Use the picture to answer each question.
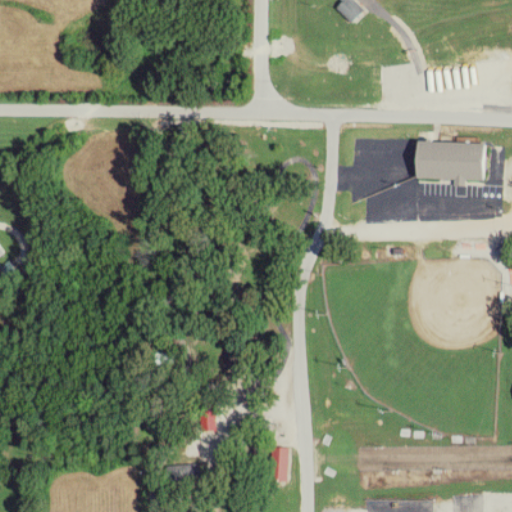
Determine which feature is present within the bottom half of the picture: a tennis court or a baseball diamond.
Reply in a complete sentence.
You can see a baseball diamond within the bottom half of the picture.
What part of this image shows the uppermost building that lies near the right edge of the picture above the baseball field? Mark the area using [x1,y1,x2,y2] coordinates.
[414,140,487,188]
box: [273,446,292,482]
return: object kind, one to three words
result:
barn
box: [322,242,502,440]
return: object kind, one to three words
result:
baseball field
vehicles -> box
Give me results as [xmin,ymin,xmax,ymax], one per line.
[452,66,462,91]
[436,68,444,94]
[471,65,478,86]
[428,68,435,93]
[462,64,470,90]
[444,66,452,91]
